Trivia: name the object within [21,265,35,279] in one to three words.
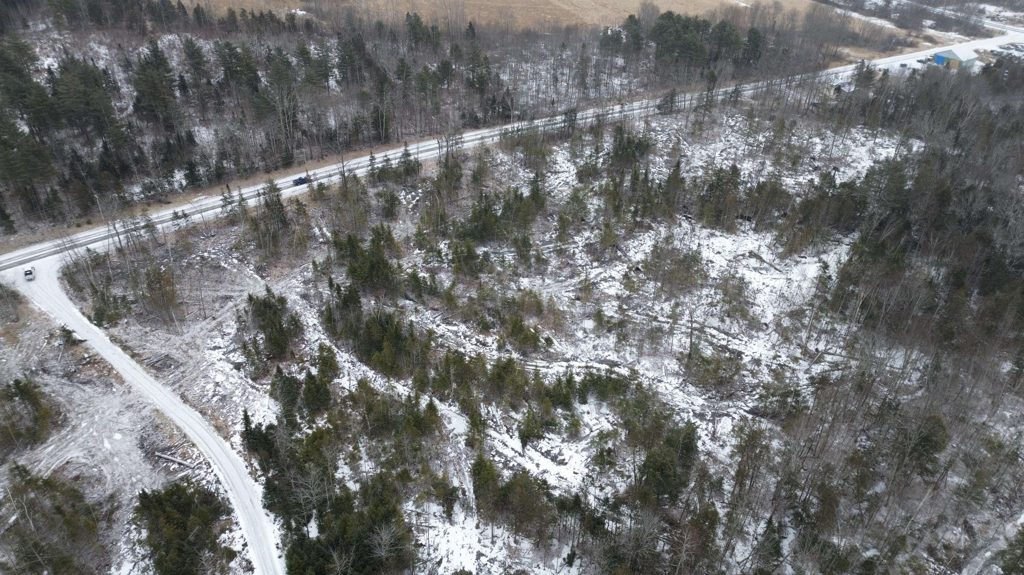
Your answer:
vehicle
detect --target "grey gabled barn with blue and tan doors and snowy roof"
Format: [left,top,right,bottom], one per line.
[934,46,983,69]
